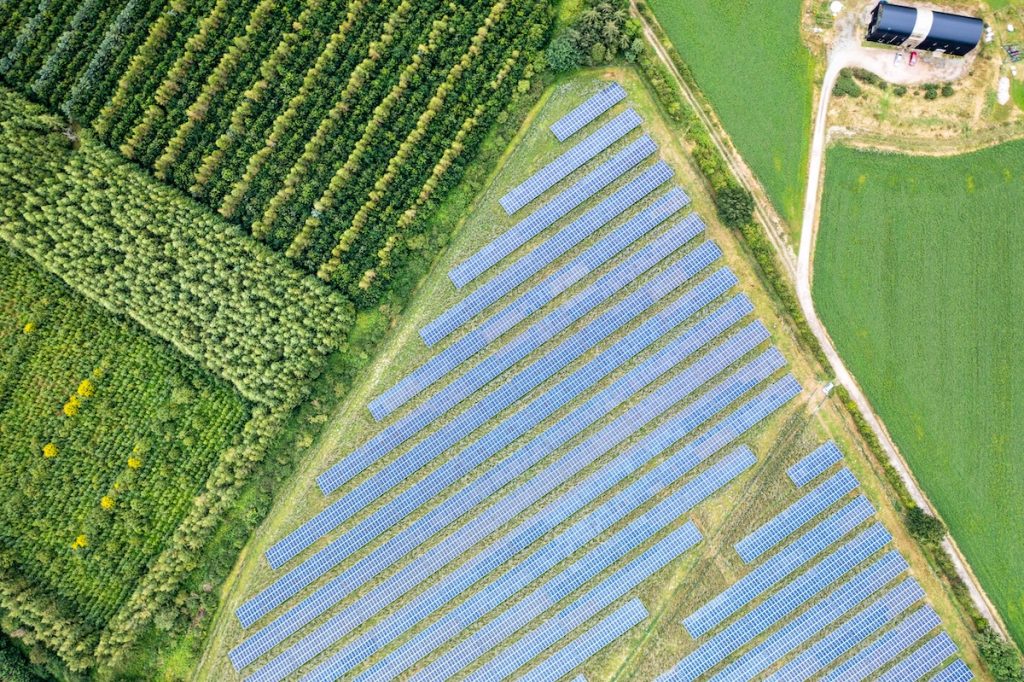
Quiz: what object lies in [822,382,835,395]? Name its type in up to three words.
vehicle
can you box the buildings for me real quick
[867,2,986,57]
